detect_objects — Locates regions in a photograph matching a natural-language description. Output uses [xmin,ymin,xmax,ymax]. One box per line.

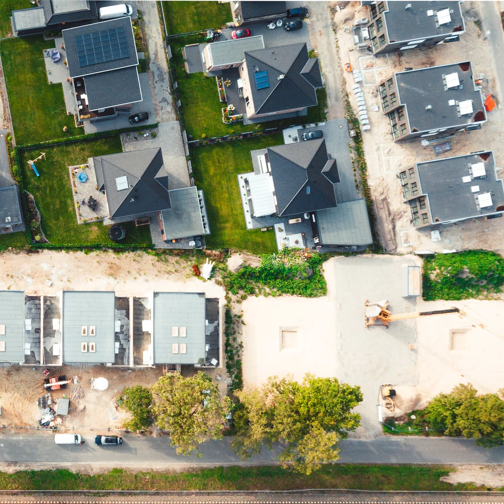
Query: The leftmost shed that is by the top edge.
[12,7,47,37]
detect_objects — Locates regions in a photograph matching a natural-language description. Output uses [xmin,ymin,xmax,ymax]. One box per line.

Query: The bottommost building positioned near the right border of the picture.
[398,151,504,228]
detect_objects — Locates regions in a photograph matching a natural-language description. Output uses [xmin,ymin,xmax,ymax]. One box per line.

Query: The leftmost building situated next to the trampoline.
[94,148,172,218]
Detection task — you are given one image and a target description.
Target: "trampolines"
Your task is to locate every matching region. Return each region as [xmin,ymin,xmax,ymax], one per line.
[110,224,127,240]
